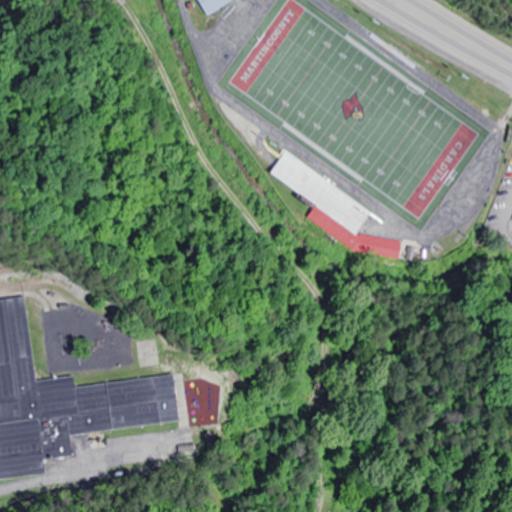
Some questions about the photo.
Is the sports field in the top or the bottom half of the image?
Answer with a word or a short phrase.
top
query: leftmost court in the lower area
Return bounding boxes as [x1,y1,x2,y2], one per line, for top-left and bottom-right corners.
[136,339,159,367]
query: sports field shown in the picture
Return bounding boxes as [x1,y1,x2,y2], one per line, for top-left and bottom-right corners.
[219,0,490,228]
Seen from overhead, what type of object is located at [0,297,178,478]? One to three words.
building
